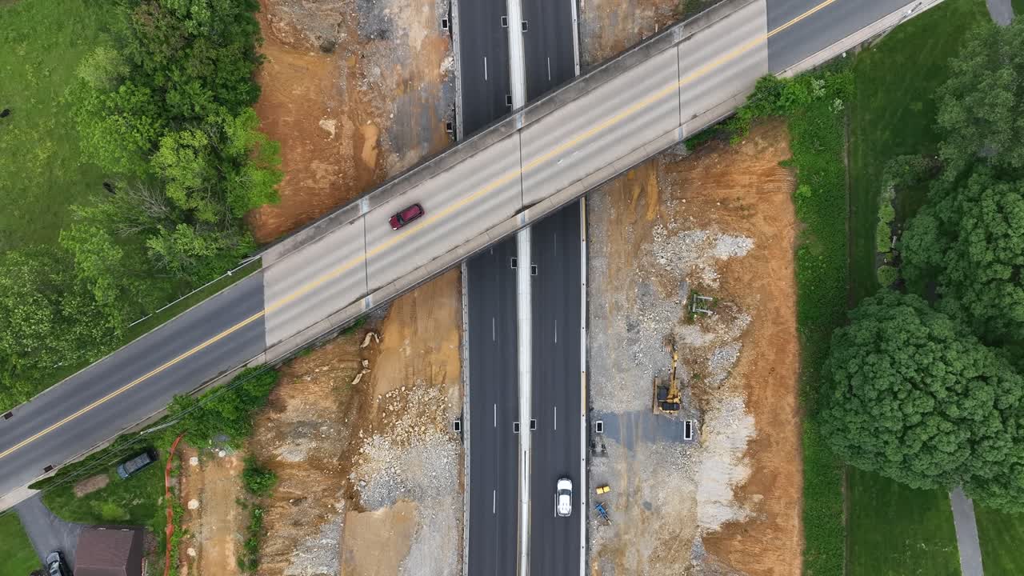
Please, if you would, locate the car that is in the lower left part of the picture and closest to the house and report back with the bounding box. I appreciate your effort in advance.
[46,549,71,576]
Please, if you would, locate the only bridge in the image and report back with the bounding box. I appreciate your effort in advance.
[261,0,766,366]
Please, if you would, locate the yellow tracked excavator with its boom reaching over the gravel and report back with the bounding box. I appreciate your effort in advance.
[655,343,682,412]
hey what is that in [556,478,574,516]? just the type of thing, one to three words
car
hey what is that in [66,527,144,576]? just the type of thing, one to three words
house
